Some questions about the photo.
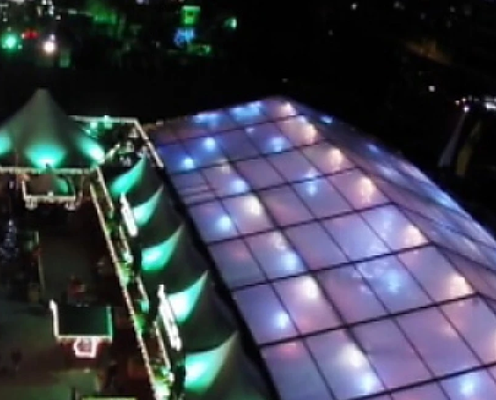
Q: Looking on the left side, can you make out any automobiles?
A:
No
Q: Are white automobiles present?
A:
No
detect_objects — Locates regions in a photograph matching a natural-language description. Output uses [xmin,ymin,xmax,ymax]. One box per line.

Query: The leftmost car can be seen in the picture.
[451,85,489,118]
